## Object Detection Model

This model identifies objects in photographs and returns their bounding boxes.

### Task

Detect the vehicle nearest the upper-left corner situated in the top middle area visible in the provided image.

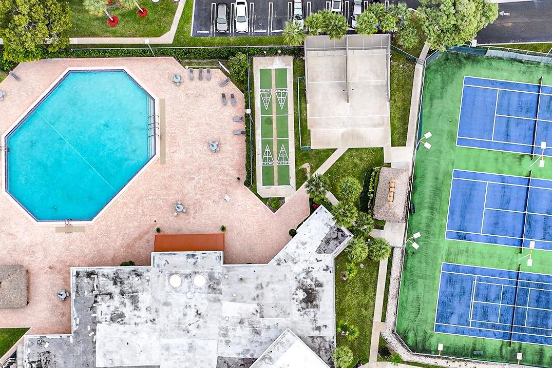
[215,1,229,34]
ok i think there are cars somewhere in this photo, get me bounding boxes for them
[291,0,305,28]
[233,0,248,32]
[215,1,229,34]
[329,0,343,15]
[349,0,363,29]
